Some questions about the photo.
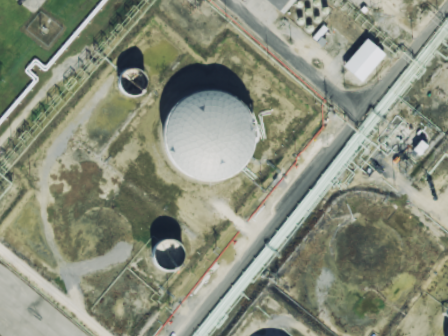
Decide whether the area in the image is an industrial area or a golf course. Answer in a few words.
industrial area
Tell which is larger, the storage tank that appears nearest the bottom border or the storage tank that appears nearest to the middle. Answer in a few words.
the storage tank that appears nearest to the middle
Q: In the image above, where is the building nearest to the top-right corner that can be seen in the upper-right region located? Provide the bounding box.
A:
[344,38,387,82]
